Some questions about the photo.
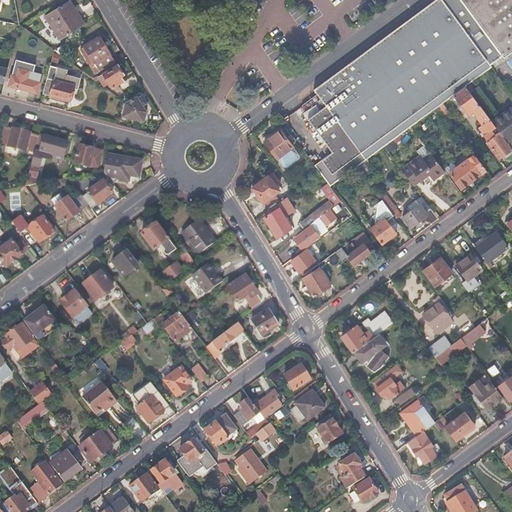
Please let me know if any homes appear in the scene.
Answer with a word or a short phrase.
Yes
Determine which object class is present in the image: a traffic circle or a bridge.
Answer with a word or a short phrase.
traffic circle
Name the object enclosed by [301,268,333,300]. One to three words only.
house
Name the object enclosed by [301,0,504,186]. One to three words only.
warehouse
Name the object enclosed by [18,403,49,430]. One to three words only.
shed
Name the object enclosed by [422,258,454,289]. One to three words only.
house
